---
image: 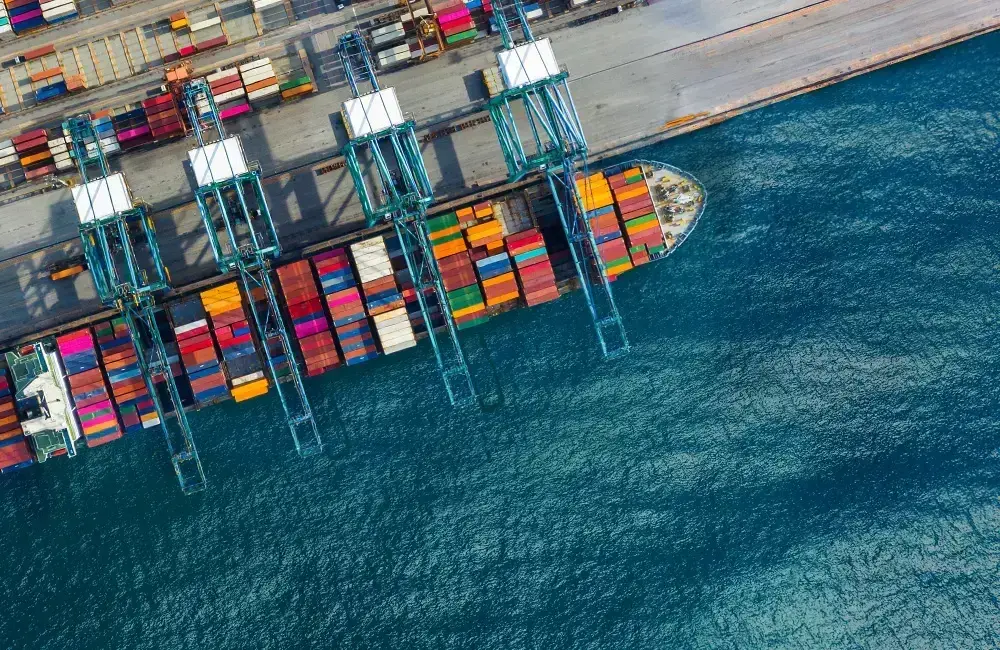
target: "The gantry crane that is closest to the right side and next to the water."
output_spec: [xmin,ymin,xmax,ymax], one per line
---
[469,0,632,364]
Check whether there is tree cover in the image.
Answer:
No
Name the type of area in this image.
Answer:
port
